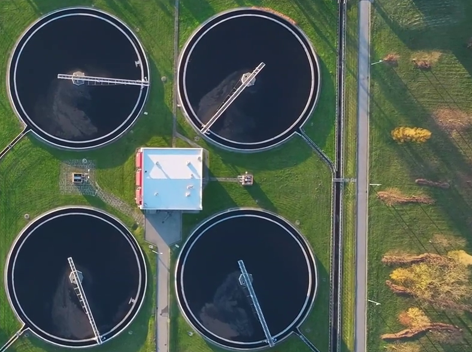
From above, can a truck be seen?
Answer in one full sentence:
No, the frame has no truck in it.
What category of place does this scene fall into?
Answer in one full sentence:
This image shows an industrial area.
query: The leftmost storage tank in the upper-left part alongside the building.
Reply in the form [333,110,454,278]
[4,6,151,152]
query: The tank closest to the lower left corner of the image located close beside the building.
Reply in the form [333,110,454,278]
[2,204,149,351]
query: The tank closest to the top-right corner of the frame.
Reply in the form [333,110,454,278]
[173,6,323,154]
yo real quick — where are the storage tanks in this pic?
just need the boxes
[173,6,323,154]
[4,6,151,152]
[172,206,319,352]
[2,204,149,351]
